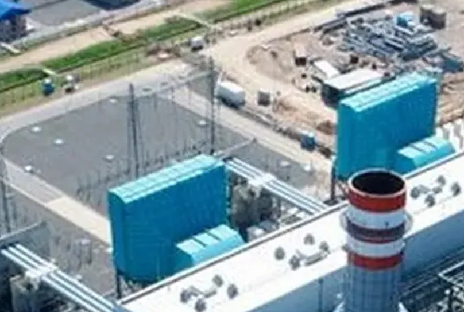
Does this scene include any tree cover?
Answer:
No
